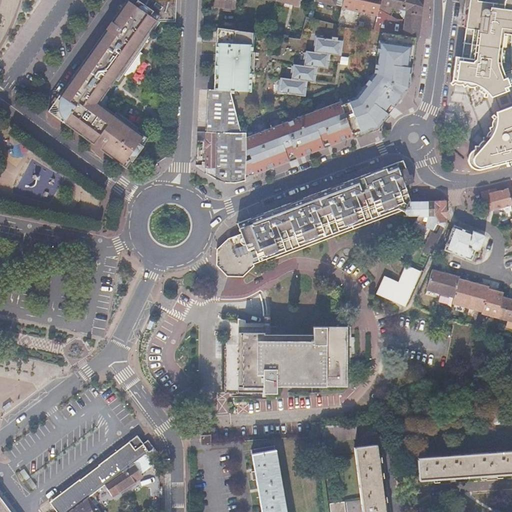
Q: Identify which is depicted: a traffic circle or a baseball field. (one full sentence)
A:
There is a traffic circle in the scene.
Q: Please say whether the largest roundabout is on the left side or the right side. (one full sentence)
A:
The largest roundabout is on the left side of the image.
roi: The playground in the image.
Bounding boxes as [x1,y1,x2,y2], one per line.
[0,130,102,214]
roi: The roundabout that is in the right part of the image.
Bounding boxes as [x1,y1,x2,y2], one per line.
[394,115,436,157]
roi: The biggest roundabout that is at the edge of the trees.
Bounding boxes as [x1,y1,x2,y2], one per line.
[128,184,212,267]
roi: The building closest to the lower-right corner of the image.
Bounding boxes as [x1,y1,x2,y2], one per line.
[418,452,512,483]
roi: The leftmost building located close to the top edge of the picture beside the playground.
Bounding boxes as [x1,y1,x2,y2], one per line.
[48,1,160,169]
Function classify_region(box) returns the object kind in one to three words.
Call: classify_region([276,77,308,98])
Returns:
house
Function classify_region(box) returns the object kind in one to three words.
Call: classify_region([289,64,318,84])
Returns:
house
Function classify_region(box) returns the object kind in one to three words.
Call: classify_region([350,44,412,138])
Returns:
building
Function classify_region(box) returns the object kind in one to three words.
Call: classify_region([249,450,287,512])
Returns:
building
